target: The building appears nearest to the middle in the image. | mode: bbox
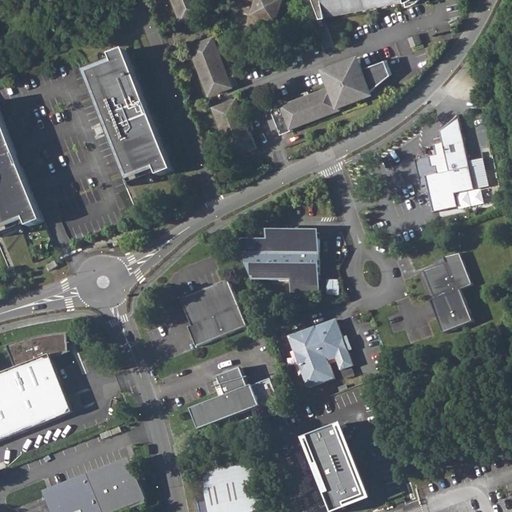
[240,228,324,294]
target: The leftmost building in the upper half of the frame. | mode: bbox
[0,120,47,235]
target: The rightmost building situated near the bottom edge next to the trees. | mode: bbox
[298,422,371,512]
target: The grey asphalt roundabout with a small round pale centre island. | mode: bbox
[74,253,132,311]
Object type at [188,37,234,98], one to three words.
house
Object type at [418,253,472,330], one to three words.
building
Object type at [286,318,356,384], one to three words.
house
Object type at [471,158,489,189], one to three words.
shed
